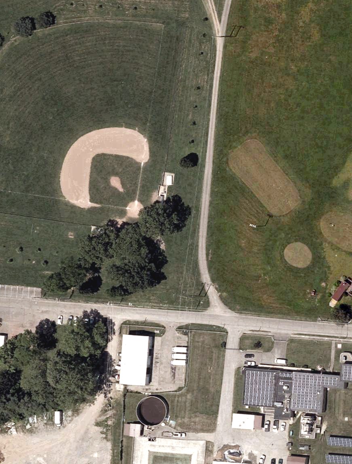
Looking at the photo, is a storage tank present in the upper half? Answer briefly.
No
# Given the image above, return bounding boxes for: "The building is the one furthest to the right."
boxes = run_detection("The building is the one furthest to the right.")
[329,277,352,307]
